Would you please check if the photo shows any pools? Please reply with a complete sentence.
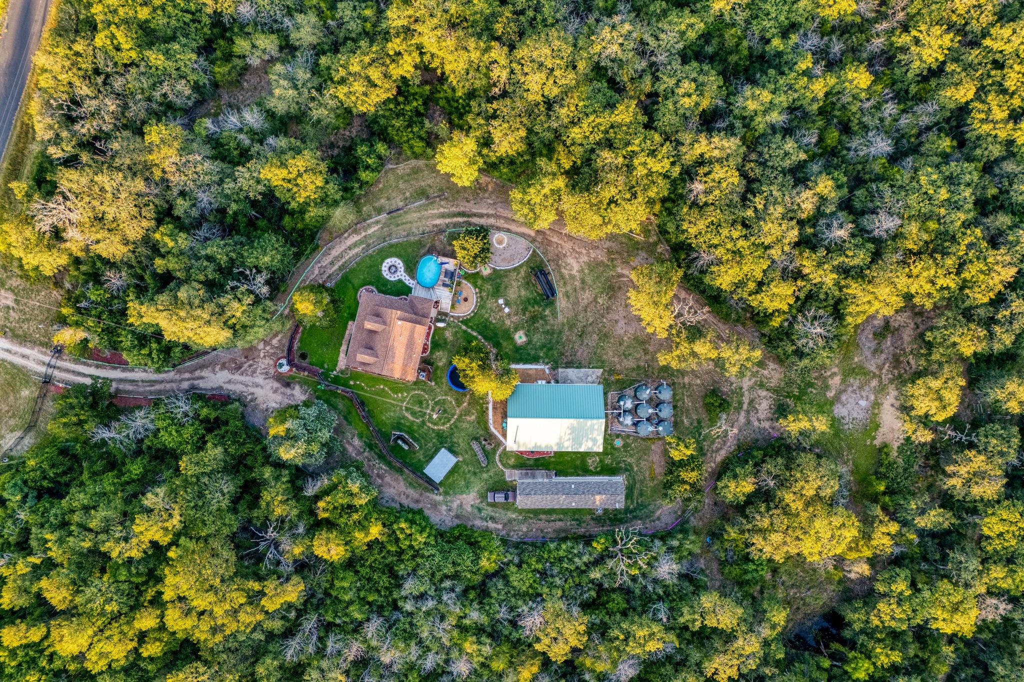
Yes, you can see a pool in this photo.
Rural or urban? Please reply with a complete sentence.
This place is rural.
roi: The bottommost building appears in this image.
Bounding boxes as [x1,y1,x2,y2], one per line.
[518,480,627,509]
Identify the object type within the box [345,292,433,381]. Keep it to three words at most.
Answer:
house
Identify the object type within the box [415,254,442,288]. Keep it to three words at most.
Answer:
swimming pool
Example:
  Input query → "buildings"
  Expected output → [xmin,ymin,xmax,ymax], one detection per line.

[345,292,433,381]
[506,383,605,452]
[424,447,458,482]
[518,480,627,509]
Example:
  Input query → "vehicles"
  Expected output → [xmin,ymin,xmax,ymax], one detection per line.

[488,491,516,503]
